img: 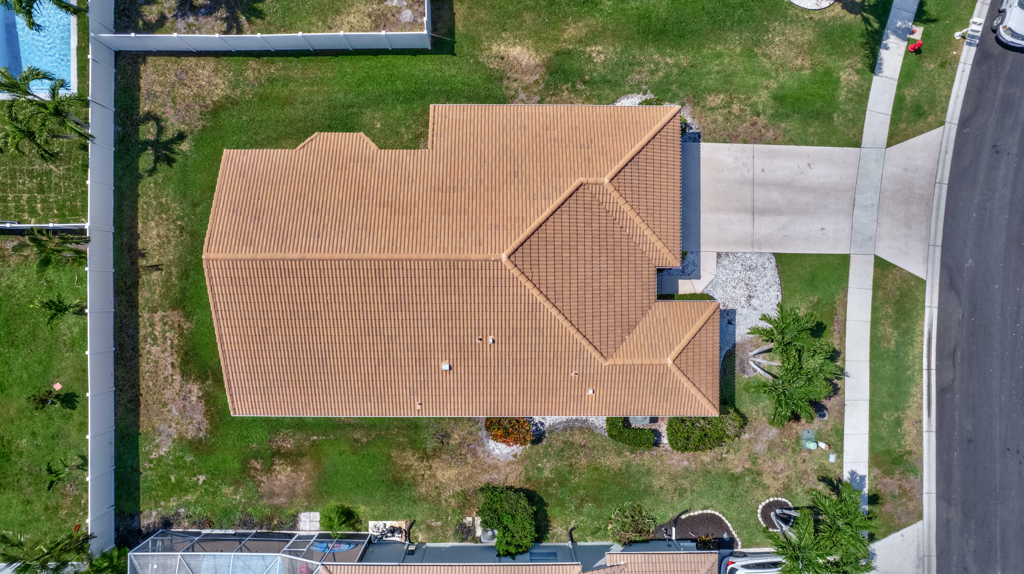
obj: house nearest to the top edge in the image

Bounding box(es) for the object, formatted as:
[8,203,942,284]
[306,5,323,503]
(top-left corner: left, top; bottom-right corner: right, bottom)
[199,102,721,417]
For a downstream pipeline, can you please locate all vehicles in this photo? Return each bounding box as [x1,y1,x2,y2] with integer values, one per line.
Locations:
[720,550,810,574]
[990,0,1024,56]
